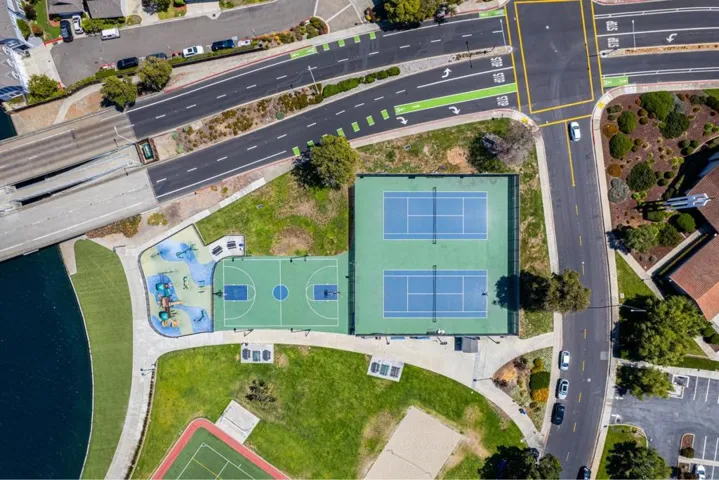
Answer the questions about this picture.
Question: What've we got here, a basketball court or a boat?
basketball court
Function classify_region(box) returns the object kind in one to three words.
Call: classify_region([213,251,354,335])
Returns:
basketball court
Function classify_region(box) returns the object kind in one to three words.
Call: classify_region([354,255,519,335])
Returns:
tennis court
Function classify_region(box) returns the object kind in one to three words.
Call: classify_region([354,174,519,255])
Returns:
tennis court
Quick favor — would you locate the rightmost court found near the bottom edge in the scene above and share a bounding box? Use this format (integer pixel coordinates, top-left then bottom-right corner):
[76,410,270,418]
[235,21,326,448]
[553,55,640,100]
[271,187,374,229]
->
[363,406,463,480]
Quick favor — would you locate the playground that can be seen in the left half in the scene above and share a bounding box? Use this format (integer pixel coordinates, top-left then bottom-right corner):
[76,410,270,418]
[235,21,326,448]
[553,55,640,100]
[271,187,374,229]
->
[138,223,245,338]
